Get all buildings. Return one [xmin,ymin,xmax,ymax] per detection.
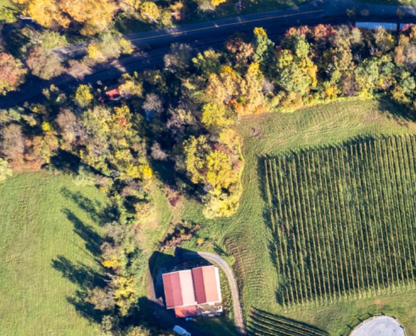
[105,84,124,98]
[163,266,224,317]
